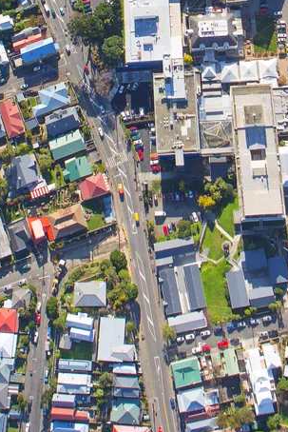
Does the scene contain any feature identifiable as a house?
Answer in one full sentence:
Yes, there's a house down there.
